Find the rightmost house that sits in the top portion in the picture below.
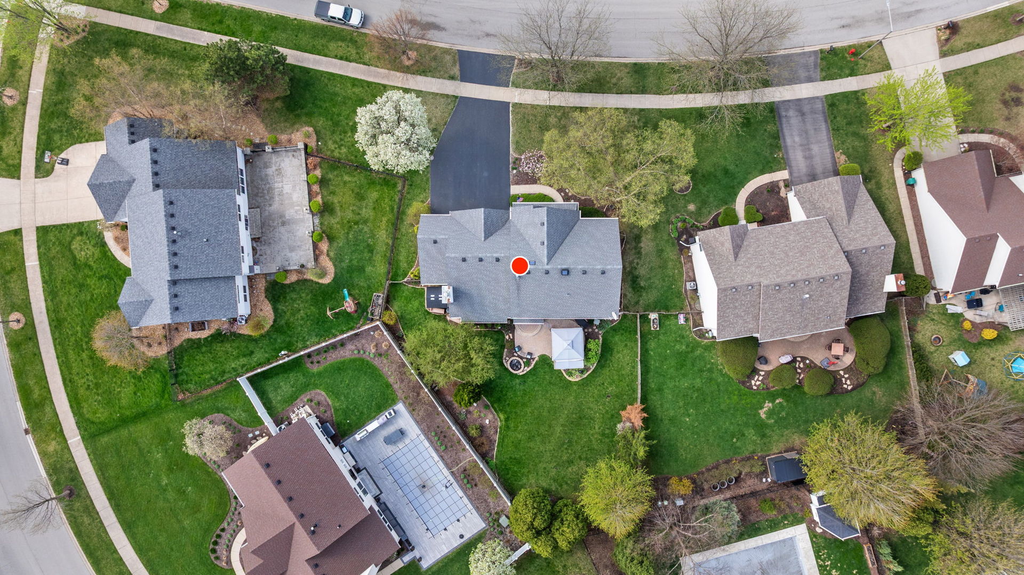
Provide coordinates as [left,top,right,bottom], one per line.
[910,149,1024,294]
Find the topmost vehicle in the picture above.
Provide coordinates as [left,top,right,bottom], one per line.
[311,0,367,29]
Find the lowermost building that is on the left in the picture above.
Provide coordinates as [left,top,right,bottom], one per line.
[222,413,402,575]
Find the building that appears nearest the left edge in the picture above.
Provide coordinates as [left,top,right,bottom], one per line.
[87,118,268,328]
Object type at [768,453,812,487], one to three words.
shed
